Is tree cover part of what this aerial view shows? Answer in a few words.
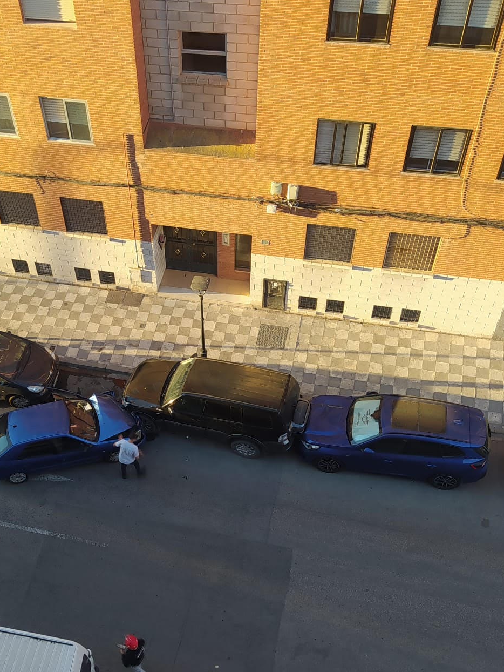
No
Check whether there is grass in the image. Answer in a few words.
No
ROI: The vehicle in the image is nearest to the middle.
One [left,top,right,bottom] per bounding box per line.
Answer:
[122,350,314,454]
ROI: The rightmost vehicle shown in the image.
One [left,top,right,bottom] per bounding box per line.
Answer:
[297,381,492,489]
